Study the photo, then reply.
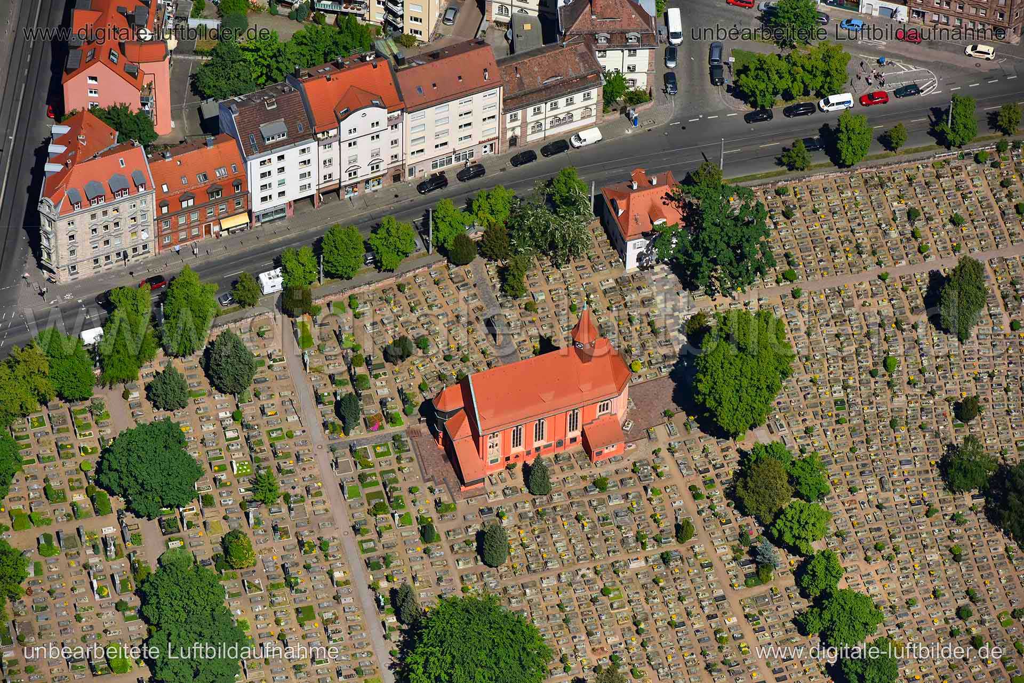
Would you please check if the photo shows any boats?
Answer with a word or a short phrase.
No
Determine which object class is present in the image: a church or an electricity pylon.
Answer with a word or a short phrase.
church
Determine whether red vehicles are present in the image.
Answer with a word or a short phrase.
Yes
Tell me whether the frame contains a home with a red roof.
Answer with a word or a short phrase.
Yes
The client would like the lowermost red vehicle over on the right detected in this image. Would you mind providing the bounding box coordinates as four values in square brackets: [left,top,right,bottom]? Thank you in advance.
[860,90,888,106]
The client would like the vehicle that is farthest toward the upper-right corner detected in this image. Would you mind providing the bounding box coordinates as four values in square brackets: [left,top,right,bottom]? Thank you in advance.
[965,44,995,61]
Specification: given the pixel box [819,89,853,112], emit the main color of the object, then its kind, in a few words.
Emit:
white vehicle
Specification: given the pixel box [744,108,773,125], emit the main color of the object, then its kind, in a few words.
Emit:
black car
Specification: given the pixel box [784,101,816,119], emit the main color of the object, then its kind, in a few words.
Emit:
black car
